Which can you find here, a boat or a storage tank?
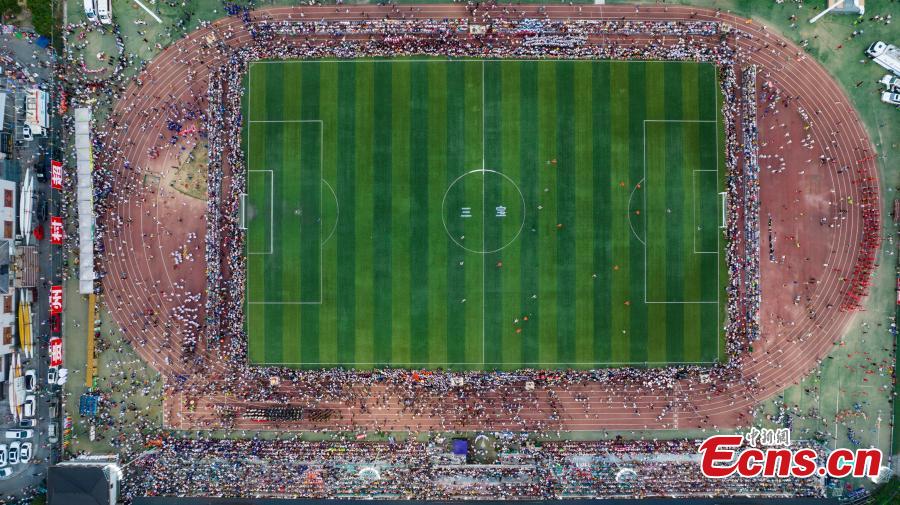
boat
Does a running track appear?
Yes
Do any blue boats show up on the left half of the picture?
No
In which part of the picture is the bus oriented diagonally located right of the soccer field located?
top right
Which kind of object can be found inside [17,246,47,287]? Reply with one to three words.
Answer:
building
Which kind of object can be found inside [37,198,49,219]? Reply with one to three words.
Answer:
vehicle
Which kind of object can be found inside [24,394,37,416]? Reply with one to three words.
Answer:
vehicle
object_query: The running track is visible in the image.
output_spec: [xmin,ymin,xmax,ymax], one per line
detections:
[86,4,879,432]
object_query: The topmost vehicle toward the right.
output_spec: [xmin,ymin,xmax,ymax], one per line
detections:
[860,43,900,78]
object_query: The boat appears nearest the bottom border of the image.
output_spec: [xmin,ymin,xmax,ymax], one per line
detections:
[8,352,28,423]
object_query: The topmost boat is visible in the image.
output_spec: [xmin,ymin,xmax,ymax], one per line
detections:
[20,167,38,244]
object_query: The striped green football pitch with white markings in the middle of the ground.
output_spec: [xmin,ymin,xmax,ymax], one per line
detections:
[244,56,725,369]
